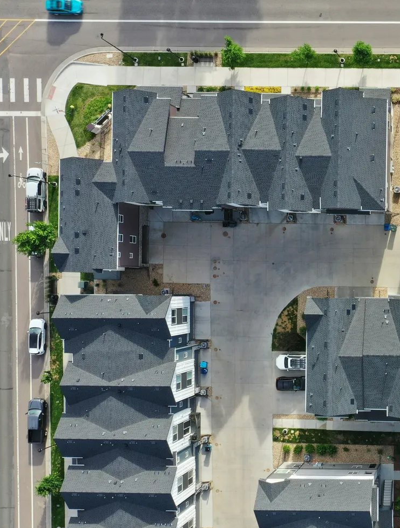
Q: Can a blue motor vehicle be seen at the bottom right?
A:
No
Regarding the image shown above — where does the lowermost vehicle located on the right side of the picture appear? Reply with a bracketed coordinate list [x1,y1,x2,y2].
[277,374,306,394]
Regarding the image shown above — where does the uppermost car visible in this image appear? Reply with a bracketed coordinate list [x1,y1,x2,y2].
[42,0,80,16]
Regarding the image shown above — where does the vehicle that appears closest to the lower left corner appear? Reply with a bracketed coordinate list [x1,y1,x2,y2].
[23,398,46,444]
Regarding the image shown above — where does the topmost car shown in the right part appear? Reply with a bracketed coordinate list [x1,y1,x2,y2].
[276,353,306,372]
